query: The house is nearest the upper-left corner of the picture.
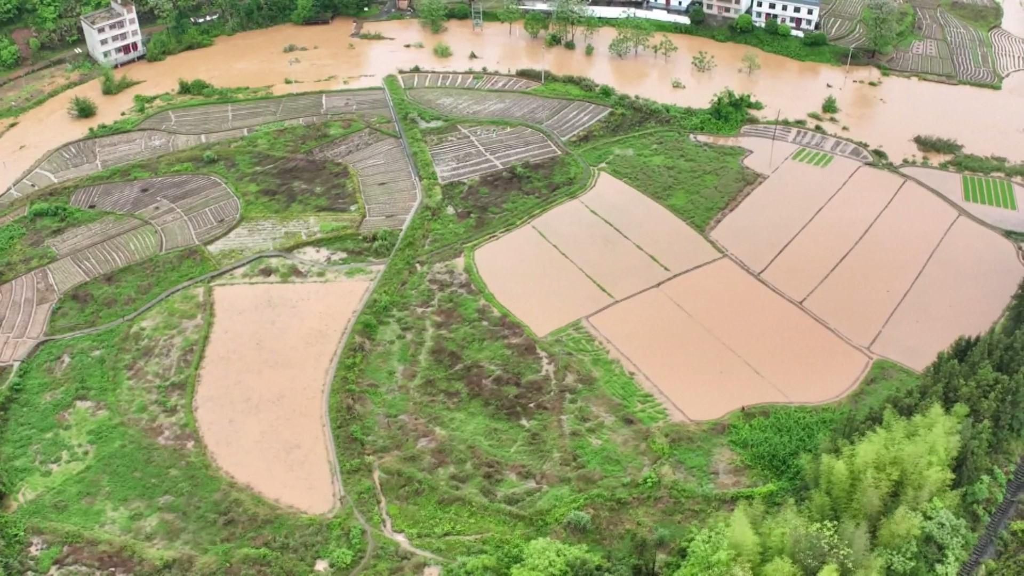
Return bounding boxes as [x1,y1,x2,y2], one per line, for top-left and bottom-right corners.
[78,0,147,65]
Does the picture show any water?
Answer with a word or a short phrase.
Yes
